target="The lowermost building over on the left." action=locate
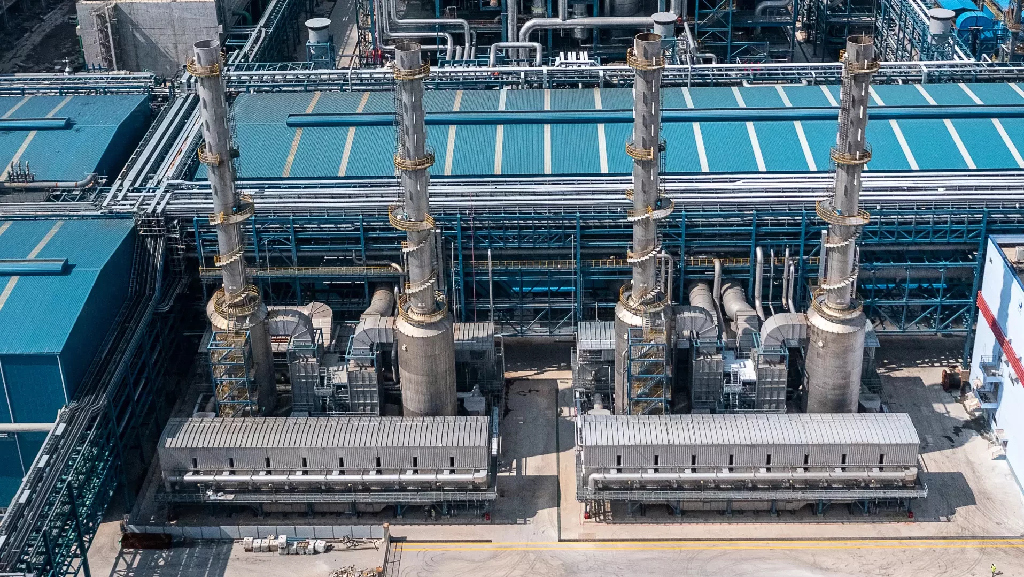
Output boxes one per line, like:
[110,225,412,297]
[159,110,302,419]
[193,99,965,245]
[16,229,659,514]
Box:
[150,412,506,520]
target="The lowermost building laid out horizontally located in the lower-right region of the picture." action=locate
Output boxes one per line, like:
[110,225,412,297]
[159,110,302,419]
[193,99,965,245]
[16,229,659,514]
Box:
[576,408,933,515]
